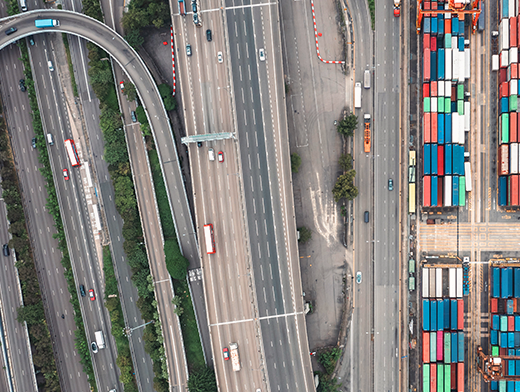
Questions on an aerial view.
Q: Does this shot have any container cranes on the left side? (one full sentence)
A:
No, on the left side there is no container crane.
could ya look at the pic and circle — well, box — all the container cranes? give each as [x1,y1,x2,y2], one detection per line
[416,0,482,29]
[480,343,520,383]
